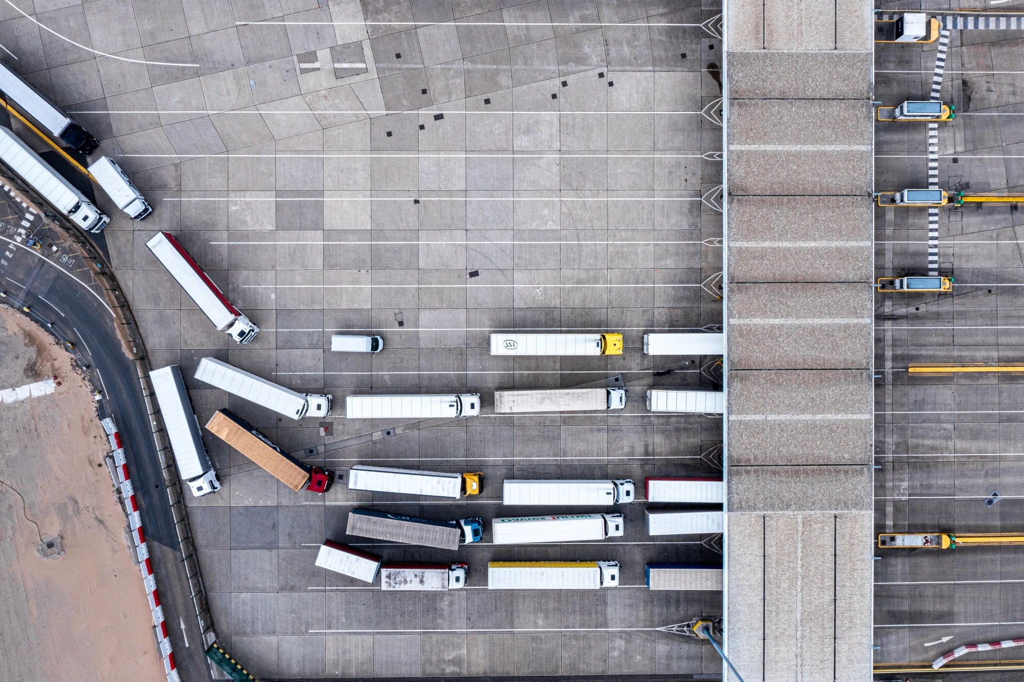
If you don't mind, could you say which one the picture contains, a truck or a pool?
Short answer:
truck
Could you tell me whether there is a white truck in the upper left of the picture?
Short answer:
Yes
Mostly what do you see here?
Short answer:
paved ground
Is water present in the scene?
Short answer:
No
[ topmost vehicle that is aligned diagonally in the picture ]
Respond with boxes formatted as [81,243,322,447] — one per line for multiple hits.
[0,59,98,155]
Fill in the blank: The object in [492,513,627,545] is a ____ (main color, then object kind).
white truck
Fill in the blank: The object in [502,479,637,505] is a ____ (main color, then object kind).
white truck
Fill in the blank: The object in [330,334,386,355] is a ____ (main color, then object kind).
white vehicle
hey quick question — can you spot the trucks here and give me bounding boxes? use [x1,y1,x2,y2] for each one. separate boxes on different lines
[87,155,158,227]
[645,561,723,590]
[344,392,481,419]
[315,539,471,591]
[194,357,331,420]
[488,560,623,589]
[645,506,723,536]
[492,513,627,545]
[644,476,723,502]
[348,465,485,500]
[347,508,485,550]
[150,366,221,502]
[502,479,637,505]
[489,333,624,357]
[146,232,260,345]
[0,125,110,232]
[0,59,98,155]
[644,334,723,355]
[647,389,723,413]
[205,408,335,494]
[495,386,630,413]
